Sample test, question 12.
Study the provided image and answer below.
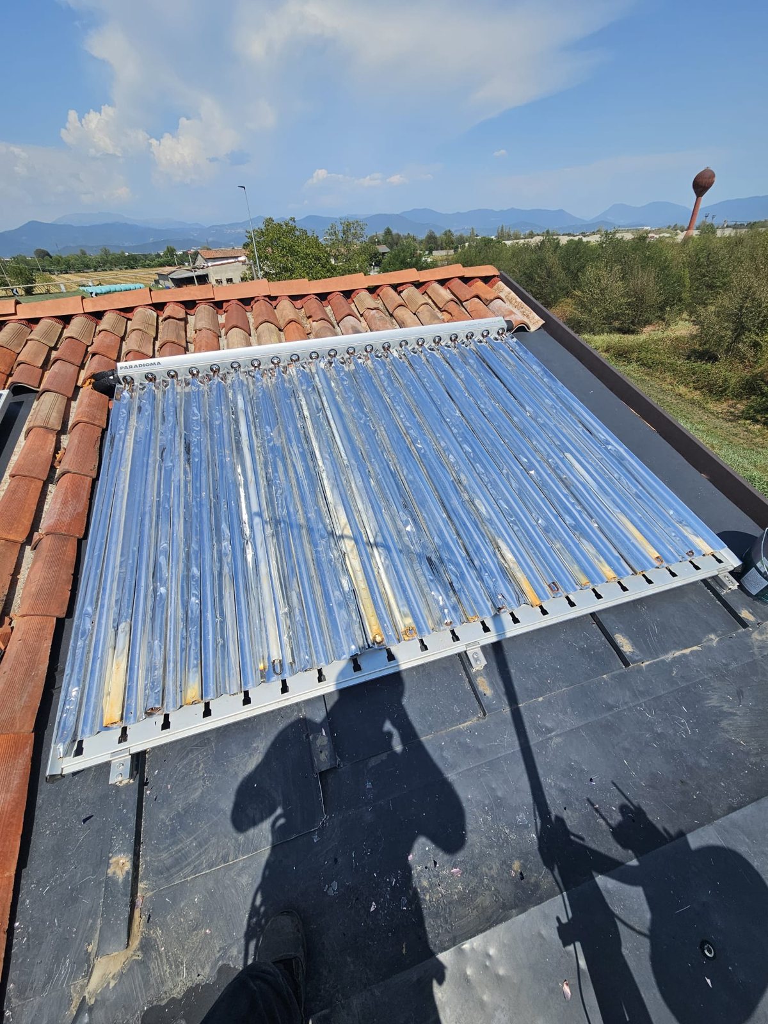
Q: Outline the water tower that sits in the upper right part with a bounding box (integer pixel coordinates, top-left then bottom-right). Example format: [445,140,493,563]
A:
[682,160,718,233]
